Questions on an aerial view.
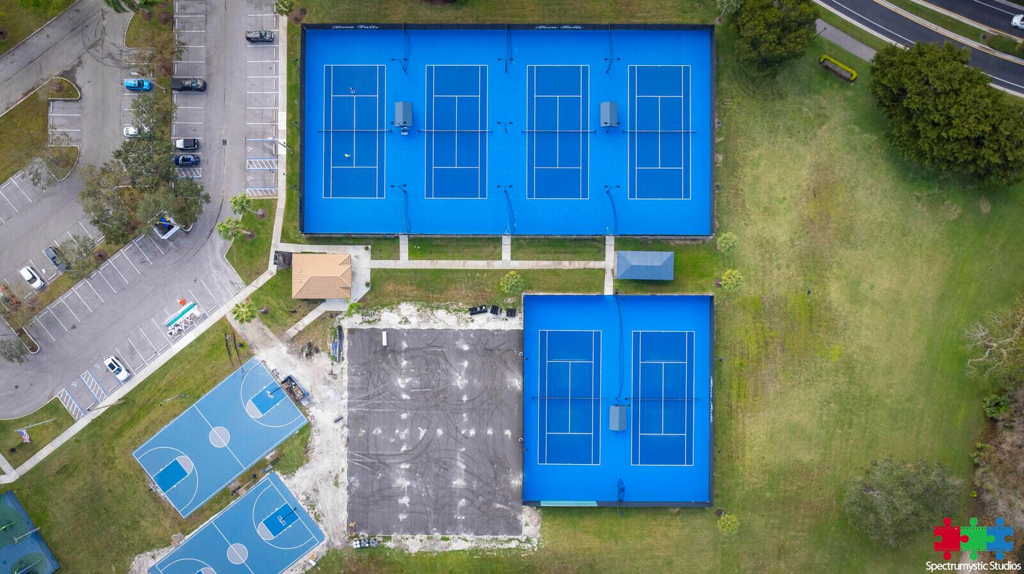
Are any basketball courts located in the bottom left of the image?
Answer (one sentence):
Yes, a basketball court shows up in the bottom left of the image.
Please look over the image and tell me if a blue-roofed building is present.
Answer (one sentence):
Yes, the frame does contain a blue-roofed building.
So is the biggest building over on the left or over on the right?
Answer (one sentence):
The biggest building appears in the left half of the scene.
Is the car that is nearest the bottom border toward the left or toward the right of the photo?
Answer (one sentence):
The car that is nearest the bottom border sits on the left side.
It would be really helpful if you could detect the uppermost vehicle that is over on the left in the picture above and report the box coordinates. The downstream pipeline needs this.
[245,29,275,43]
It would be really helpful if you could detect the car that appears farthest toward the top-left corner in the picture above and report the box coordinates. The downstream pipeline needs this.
[125,78,153,91]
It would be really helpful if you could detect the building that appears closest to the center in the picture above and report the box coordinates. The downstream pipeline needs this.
[617,251,674,280]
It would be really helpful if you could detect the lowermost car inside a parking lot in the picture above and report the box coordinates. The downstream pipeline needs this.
[104,355,129,381]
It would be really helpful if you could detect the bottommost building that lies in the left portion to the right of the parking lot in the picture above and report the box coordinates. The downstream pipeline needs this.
[292,254,351,299]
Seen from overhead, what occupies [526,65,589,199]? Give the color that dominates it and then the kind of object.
blue tennis court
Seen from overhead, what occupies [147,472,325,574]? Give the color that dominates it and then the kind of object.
blue basketball court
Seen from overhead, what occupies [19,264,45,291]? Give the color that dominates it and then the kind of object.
white car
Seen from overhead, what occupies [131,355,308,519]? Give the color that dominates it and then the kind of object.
blue basketball court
